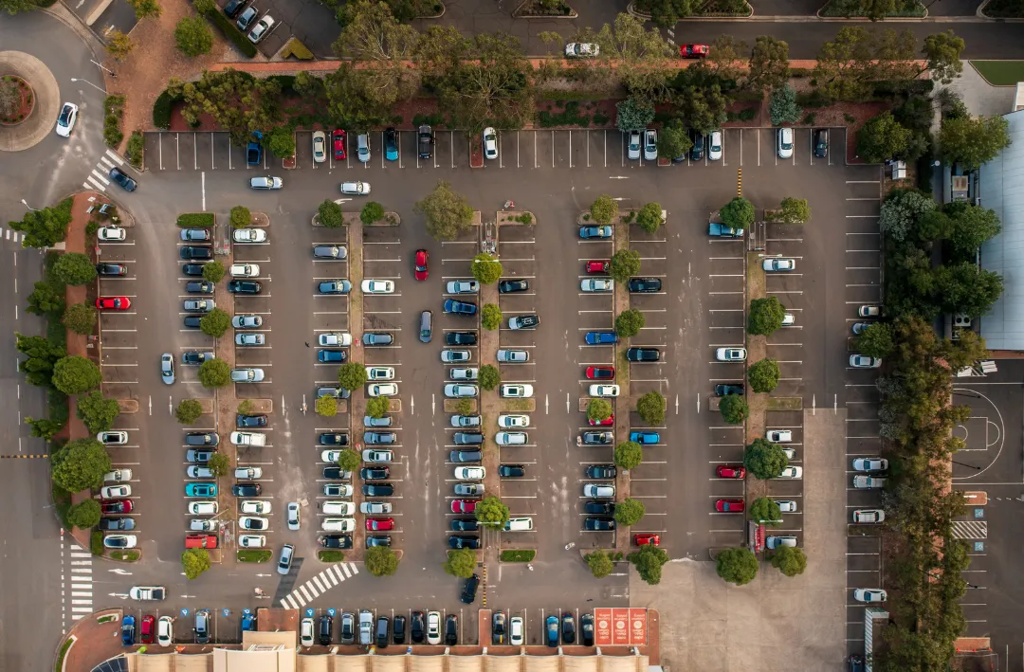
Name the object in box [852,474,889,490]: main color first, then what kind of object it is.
gray vehicle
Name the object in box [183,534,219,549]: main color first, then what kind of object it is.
red vehicle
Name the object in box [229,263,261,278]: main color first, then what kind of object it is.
white car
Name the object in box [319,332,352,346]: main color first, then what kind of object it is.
white car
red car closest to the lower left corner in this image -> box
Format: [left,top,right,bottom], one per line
[139,614,156,644]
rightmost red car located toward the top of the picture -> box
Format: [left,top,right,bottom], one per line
[680,42,710,58]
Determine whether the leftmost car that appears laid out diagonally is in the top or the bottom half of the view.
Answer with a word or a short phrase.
top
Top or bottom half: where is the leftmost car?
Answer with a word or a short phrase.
top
